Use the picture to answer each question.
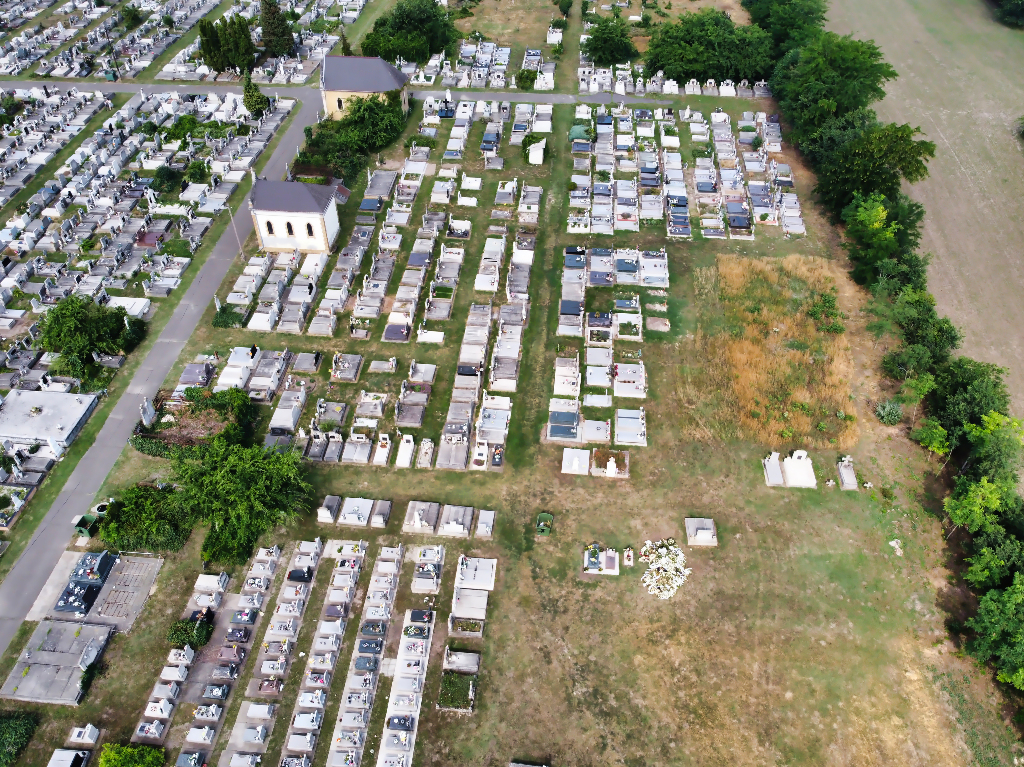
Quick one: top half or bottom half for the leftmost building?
top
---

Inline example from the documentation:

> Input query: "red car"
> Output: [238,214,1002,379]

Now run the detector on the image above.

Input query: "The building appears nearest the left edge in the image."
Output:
[245,159,343,254]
